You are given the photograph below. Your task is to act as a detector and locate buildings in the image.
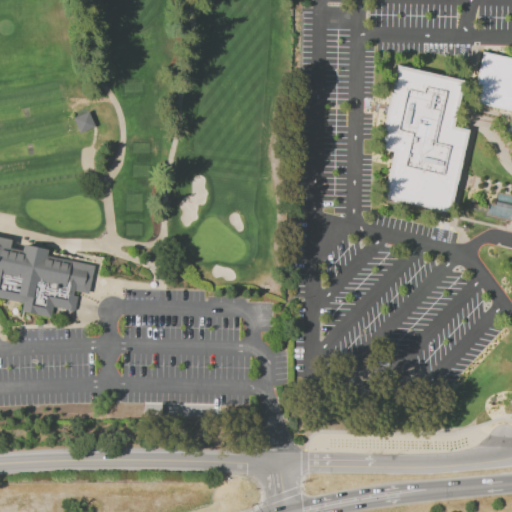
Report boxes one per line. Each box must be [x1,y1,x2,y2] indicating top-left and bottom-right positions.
[488,194,512,220]
[386,64,472,210]
[75,112,96,132]
[479,51,512,110]
[0,238,98,317]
